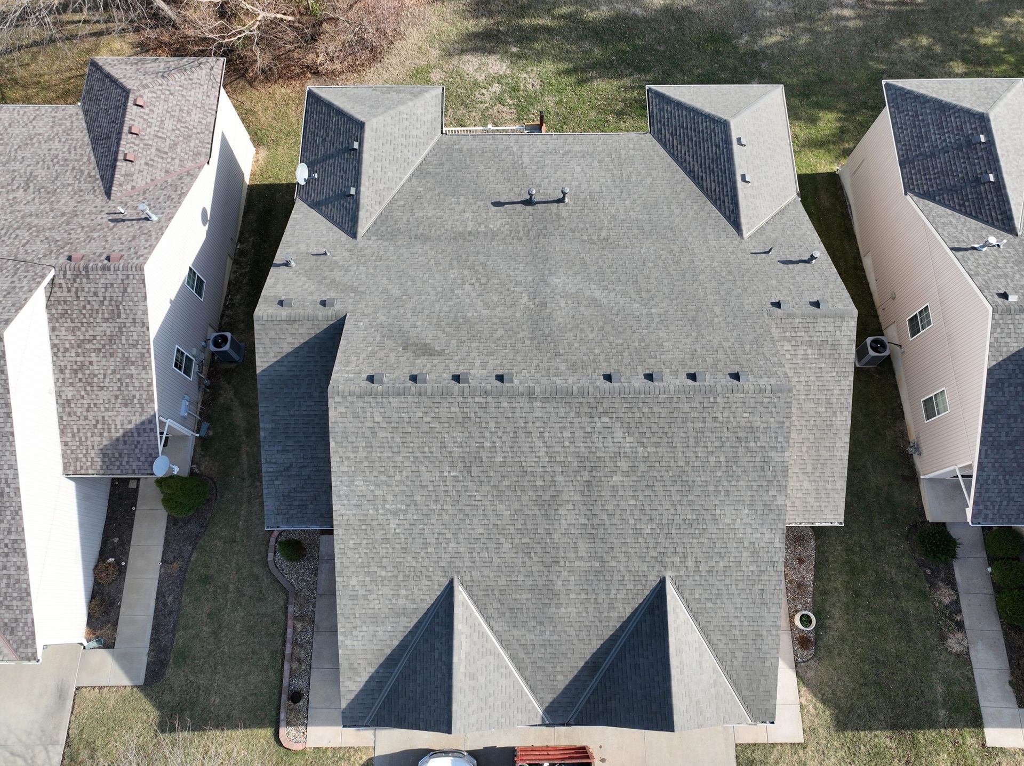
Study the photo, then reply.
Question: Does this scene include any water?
No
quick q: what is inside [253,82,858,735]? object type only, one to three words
house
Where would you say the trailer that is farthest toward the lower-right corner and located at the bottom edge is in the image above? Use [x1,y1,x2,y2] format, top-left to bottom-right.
[516,745,592,766]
